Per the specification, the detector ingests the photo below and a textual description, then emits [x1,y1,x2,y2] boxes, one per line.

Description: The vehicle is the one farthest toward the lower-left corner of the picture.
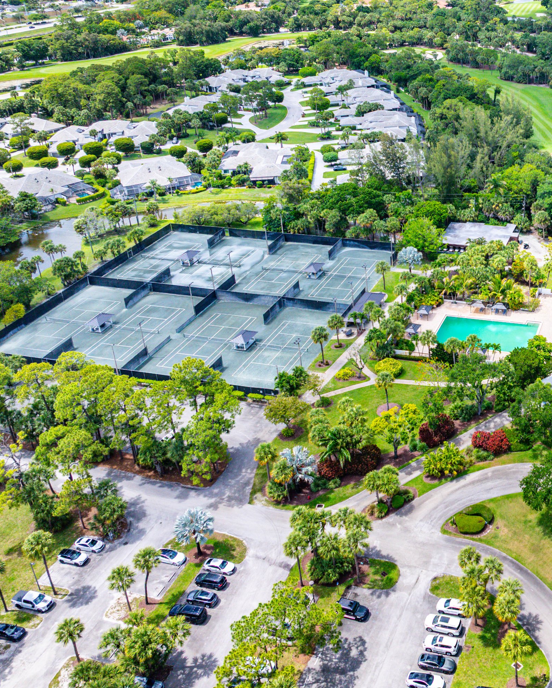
[0,623,27,642]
